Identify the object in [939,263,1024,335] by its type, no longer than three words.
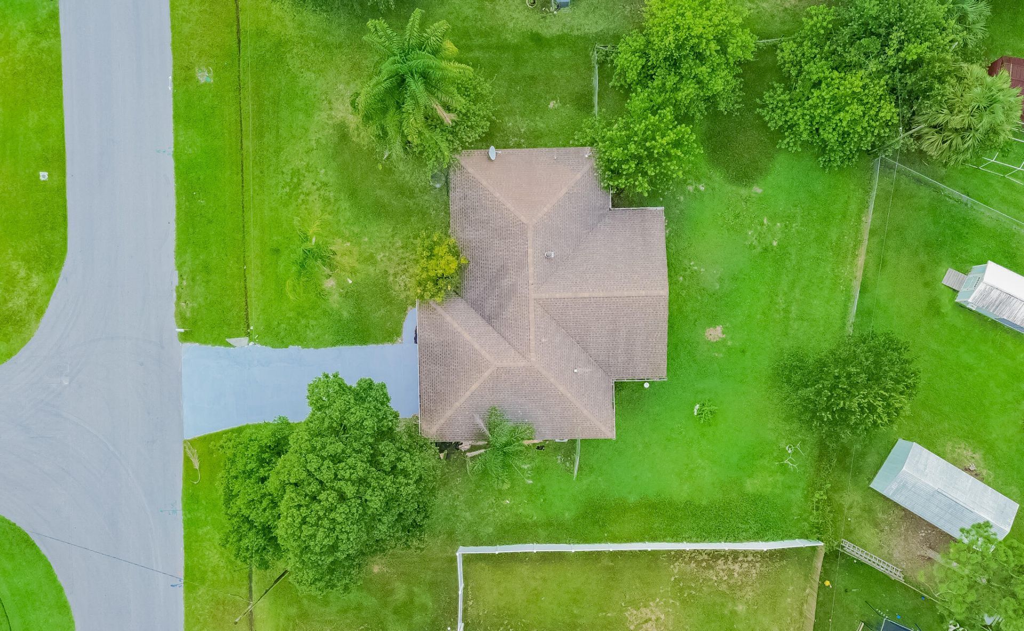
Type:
shed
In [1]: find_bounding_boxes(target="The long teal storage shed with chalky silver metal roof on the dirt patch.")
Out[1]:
[869,438,1018,555]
